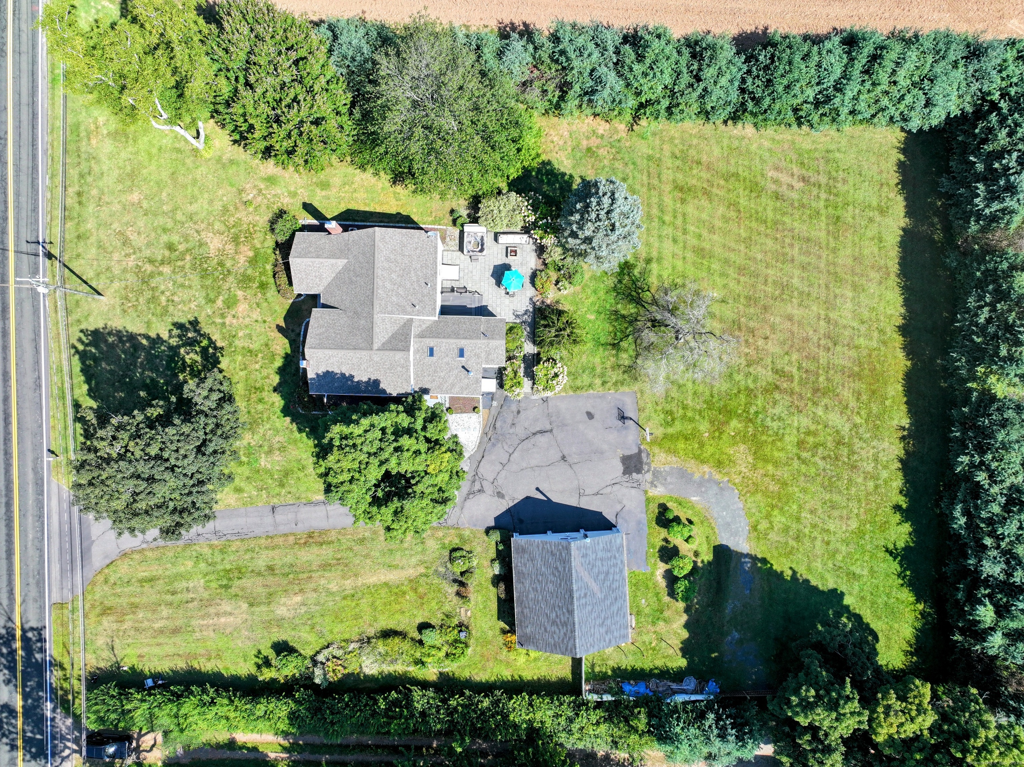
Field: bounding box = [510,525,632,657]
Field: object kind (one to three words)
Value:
building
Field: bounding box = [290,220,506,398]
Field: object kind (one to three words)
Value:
house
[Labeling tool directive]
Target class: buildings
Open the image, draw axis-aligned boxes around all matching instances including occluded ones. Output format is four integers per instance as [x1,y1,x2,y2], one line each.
[510,525,632,657]
[290,220,506,398]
